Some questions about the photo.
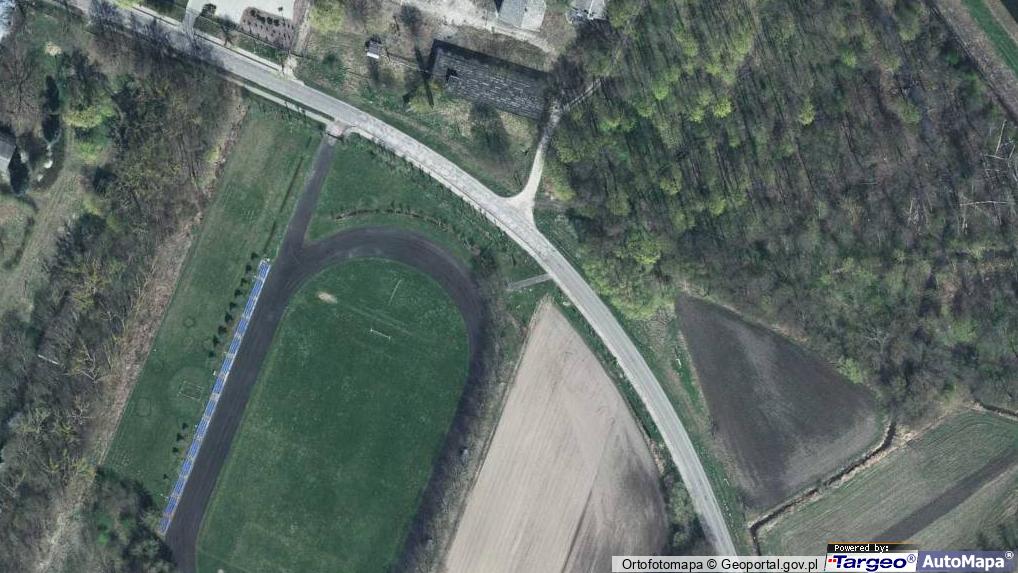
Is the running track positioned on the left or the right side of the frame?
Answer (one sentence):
The running track appears in the left half of the scene.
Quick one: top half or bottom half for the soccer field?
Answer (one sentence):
The bottom half of the photo is where the soccer field is.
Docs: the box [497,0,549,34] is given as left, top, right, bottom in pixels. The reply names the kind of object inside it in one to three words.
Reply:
house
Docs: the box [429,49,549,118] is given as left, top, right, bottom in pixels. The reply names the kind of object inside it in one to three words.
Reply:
barn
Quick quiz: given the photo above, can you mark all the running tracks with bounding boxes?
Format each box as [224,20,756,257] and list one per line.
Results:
[164,226,489,573]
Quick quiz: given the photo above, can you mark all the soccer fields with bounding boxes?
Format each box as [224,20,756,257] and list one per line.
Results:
[195,257,469,573]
